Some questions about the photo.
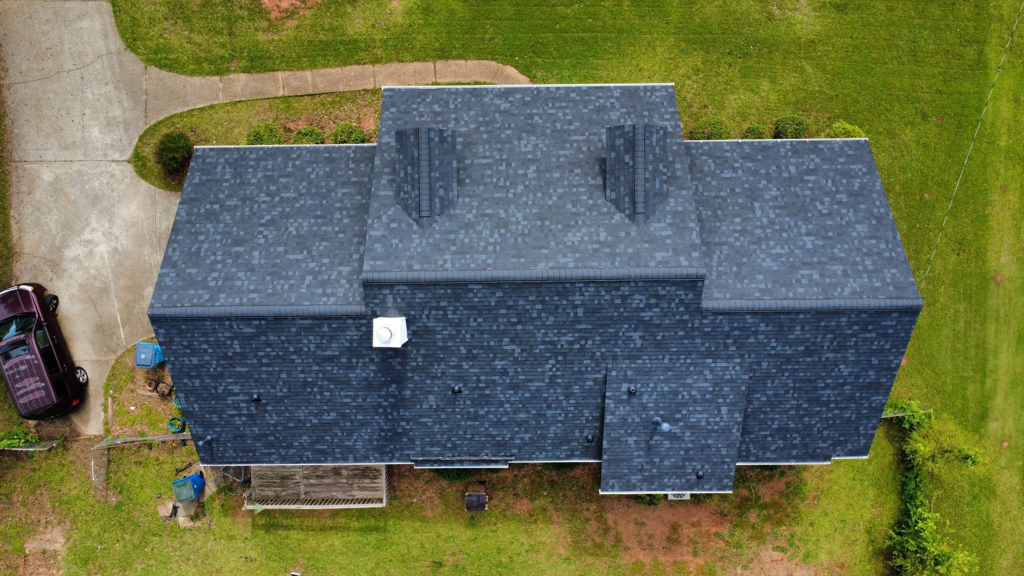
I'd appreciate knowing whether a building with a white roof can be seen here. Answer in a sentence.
No, there isn't any building with a white roof down there.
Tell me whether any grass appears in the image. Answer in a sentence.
Yes, some grass is visible.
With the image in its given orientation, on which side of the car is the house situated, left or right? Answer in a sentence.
In the image, the house sits on the right side of the car.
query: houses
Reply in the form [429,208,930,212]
[147,80,925,494]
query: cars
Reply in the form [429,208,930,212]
[0,282,91,422]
